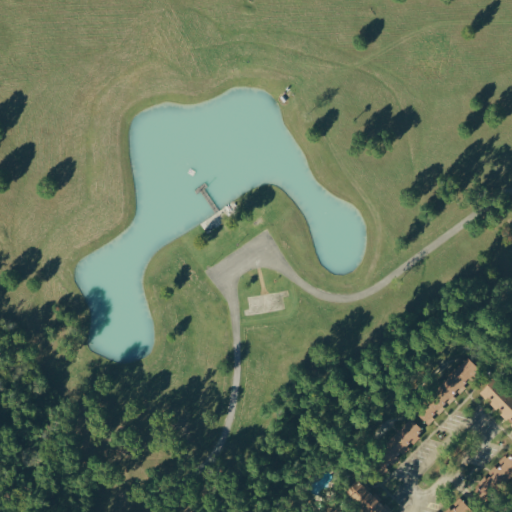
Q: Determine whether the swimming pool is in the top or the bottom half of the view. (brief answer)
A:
bottom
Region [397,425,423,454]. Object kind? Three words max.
building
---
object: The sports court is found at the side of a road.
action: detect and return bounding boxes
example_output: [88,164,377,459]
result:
[244,290,289,316]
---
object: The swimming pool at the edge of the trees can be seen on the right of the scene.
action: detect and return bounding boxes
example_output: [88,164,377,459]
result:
[312,470,334,501]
